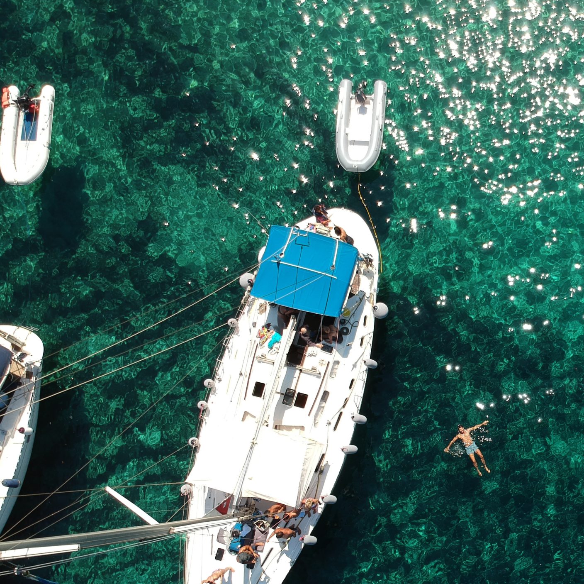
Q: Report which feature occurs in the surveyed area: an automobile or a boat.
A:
boat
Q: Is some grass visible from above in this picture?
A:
No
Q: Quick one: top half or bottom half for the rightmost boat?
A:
top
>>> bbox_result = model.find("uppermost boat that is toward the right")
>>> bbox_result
[335,78,388,171]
